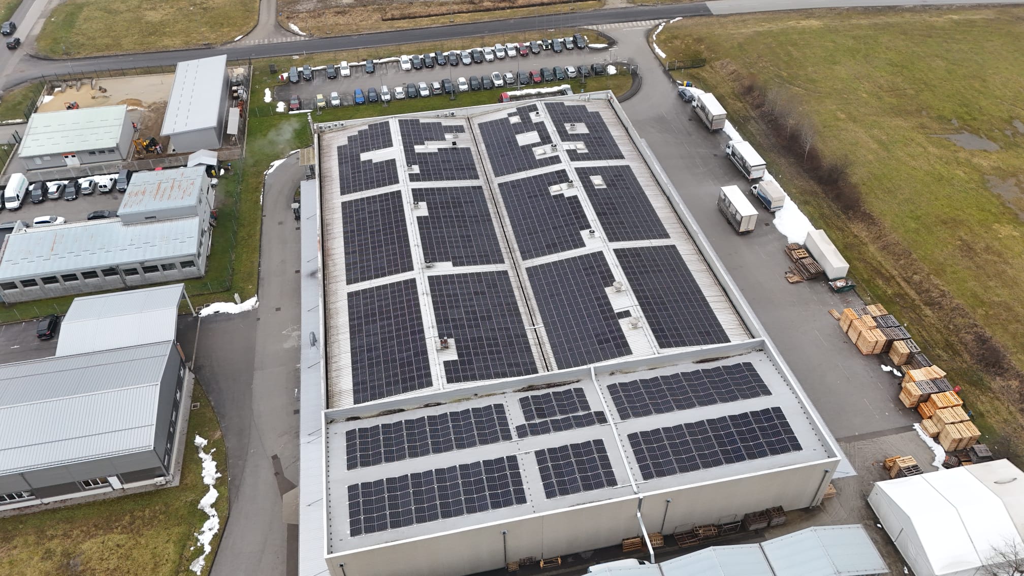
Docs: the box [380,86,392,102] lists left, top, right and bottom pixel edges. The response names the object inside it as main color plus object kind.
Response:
white vehicle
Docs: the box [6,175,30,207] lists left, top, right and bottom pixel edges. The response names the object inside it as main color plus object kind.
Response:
white vehicle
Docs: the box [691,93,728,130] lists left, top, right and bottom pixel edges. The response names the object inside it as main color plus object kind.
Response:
white truck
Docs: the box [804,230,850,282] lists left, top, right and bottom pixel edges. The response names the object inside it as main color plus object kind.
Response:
white shipping container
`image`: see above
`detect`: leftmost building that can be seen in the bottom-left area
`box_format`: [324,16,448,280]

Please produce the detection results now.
[0,340,193,516]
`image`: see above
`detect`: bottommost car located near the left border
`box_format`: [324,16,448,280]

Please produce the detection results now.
[36,314,61,342]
